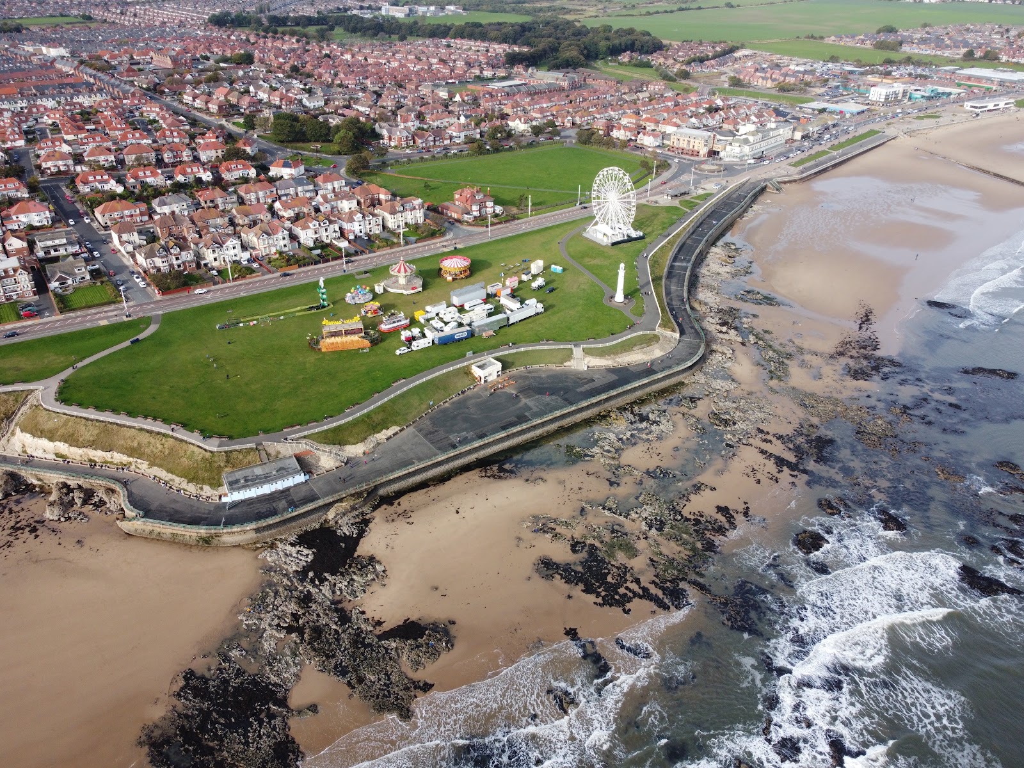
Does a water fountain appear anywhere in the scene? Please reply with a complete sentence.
No, the photo shows no water fountain.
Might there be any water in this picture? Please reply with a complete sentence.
Yes, the picture does contain water.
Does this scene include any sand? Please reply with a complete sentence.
Yes, sand can be seen from above here.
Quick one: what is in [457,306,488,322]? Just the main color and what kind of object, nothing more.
white camper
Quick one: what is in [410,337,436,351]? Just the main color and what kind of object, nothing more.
white camper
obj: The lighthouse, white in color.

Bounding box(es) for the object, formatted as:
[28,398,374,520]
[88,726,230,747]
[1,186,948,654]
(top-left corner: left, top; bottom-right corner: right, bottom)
[606,264,633,306]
